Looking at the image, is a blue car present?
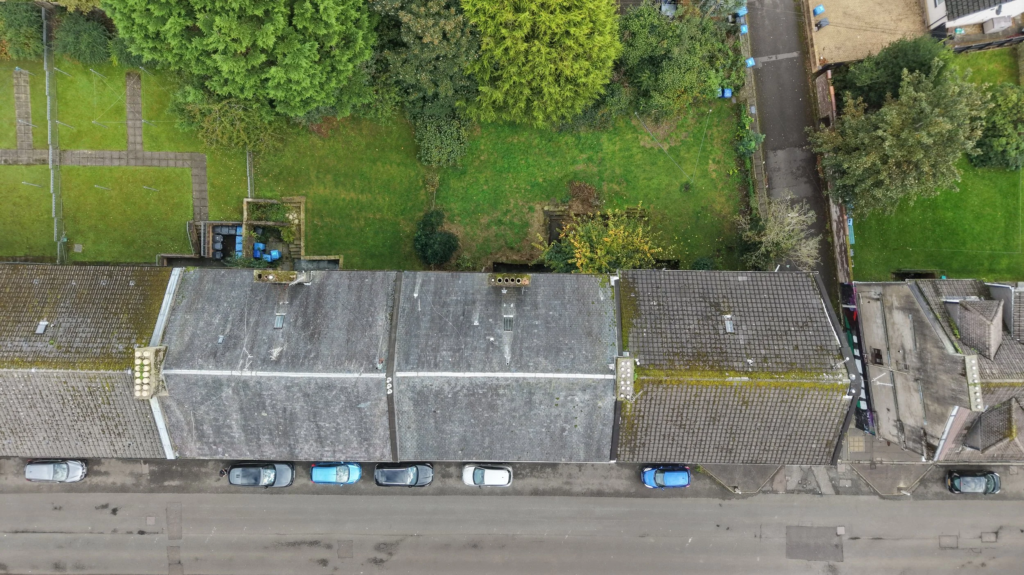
Yes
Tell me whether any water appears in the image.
No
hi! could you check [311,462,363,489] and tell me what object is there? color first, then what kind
blue car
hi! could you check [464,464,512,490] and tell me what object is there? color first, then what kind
white car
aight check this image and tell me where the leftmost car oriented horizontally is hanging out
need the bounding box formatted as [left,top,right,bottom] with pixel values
[24,459,90,487]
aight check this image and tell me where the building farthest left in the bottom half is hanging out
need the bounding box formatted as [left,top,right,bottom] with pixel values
[0,263,184,460]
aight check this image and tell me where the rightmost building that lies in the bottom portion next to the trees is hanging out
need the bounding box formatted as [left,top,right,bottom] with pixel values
[840,276,1024,461]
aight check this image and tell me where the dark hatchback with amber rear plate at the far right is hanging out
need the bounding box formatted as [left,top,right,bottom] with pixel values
[943,468,997,498]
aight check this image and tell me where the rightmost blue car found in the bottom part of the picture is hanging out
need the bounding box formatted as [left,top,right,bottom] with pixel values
[641,465,690,492]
